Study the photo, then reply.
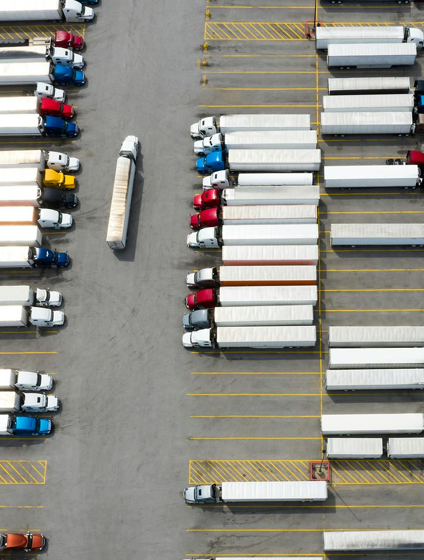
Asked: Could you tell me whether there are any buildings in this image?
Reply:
No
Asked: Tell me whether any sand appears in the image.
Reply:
No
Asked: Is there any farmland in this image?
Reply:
No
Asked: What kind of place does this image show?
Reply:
parking lot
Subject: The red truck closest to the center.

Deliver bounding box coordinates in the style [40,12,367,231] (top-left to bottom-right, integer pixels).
[185,288,220,310]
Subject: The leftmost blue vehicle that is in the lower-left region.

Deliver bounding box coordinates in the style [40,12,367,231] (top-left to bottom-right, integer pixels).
[1,416,52,435]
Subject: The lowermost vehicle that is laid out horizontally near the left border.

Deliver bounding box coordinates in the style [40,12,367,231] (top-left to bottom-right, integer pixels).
[3,532,46,553]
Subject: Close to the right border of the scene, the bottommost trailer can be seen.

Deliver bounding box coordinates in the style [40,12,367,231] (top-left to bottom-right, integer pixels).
[321,531,424,552]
